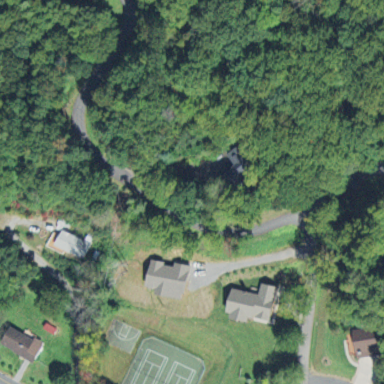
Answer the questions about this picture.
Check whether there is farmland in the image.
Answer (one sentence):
No, farmland can't be seen anywhere here.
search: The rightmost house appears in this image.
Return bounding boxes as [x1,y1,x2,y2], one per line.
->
[347,327,378,356]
